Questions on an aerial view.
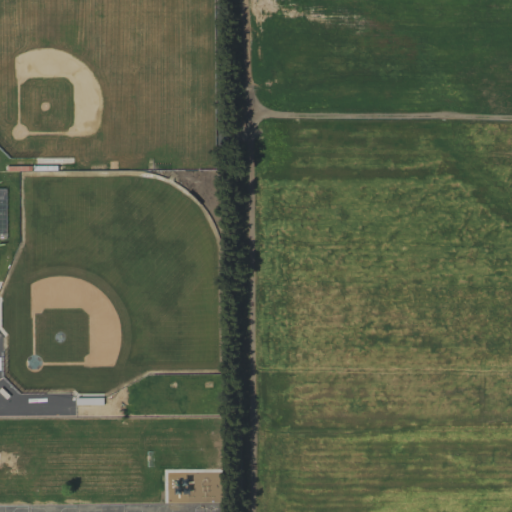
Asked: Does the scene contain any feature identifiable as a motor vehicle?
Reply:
No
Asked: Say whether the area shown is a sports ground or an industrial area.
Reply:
sports ground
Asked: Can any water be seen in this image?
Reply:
No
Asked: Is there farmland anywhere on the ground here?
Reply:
Yes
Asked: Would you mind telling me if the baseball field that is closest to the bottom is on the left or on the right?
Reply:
left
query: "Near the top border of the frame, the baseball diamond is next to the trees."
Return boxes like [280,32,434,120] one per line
[0,0,217,169]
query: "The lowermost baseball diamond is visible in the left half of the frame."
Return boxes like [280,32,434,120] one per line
[0,170,222,395]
